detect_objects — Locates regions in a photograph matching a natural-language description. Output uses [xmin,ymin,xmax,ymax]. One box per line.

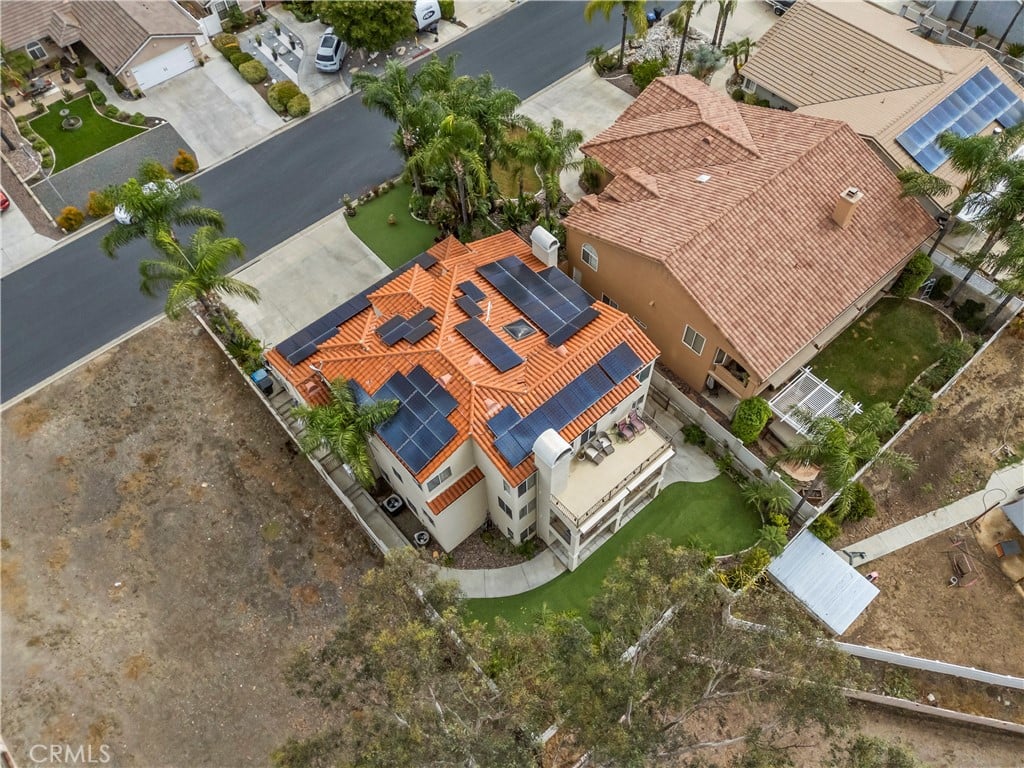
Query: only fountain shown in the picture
[53,101,81,129]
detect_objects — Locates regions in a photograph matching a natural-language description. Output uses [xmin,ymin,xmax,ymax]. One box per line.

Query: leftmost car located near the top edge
[310,34,344,71]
